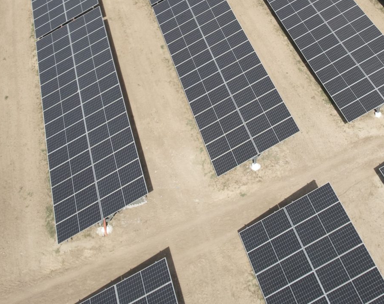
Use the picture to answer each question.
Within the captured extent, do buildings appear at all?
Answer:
No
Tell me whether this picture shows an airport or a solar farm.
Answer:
solar farm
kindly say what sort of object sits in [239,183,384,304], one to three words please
solar array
